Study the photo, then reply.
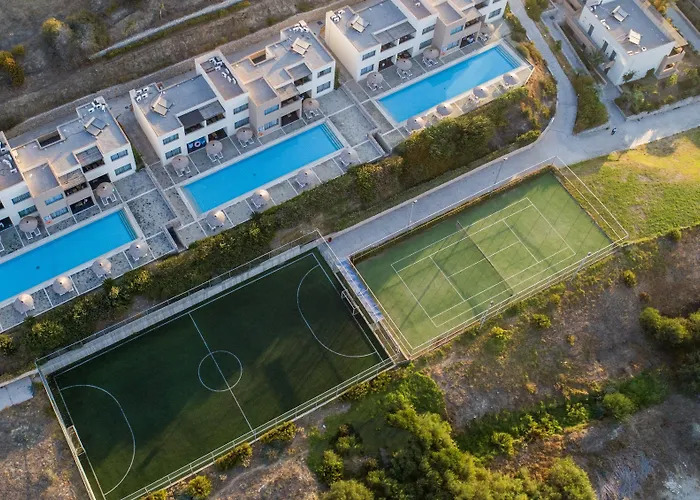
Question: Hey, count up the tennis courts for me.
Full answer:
In total, there is 1 tennis court in the scene.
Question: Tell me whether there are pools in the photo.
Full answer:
Yes, the photo shows a pool.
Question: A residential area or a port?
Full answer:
What you see here is a residential area.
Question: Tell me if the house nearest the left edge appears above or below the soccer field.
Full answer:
You can see the house nearest the left edge above the soccer field in the frame.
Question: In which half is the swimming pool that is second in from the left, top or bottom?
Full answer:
You can find the swimming pool that is second in from the left in the top half.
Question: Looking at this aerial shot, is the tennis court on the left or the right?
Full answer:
You can find the tennis court on the right side of the picture.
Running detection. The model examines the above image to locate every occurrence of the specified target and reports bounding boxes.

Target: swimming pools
[175,118,350,220]
[372,41,528,129]
[0,209,143,311]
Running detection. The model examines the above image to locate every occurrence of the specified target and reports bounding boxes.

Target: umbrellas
[206,208,226,227]
[92,259,111,276]
[51,277,70,295]
[473,85,489,102]
[236,126,253,143]
[94,183,111,200]
[13,293,33,313]
[254,188,271,205]
[407,117,423,134]
[172,154,189,171]
[502,72,517,89]
[129,241,148,259]
[422,46,438,63]
[396,57,412,73]
[206,140,222,156]
[303,97,320,115]
[21,217,39,235]
[437,102,453,118]
[367,72,383,88]
[297,168,314,185]
[482,23,497,38]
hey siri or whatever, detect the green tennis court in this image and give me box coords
[351,171,613,355]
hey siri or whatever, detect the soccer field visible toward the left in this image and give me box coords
[46,253,394,500]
